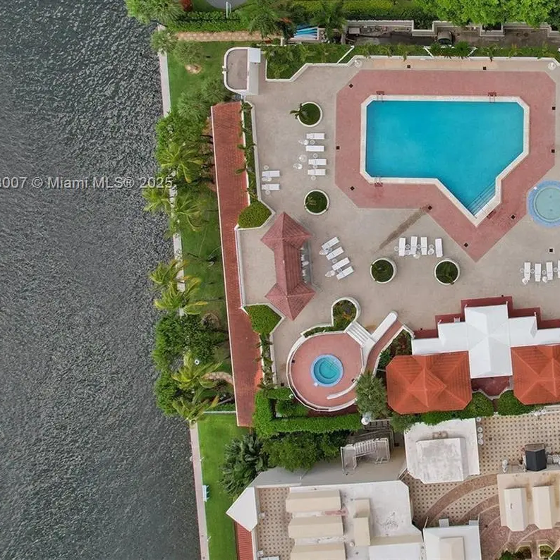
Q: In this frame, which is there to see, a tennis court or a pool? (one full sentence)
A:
This aerial view contains a pool.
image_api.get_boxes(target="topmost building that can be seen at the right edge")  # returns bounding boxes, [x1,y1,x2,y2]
[386,301,560,414]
